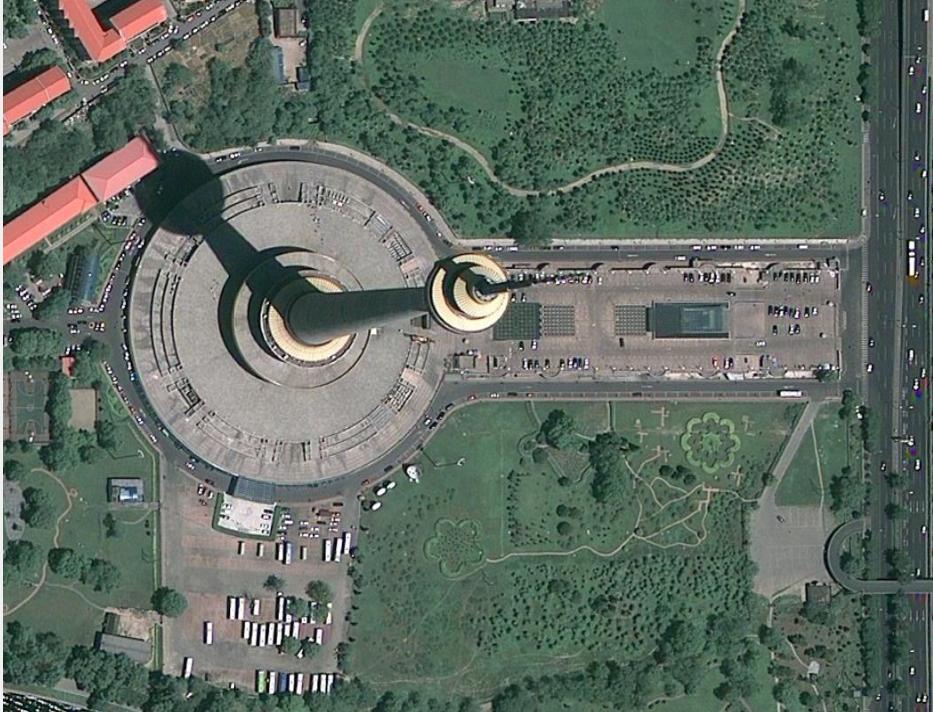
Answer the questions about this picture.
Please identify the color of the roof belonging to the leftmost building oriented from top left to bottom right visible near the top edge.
red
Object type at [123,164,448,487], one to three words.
building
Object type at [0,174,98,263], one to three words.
building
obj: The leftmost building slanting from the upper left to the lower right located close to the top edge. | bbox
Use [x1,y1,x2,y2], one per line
[56,0,126,62]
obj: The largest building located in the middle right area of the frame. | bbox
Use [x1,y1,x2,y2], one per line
[647,300,731,342]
